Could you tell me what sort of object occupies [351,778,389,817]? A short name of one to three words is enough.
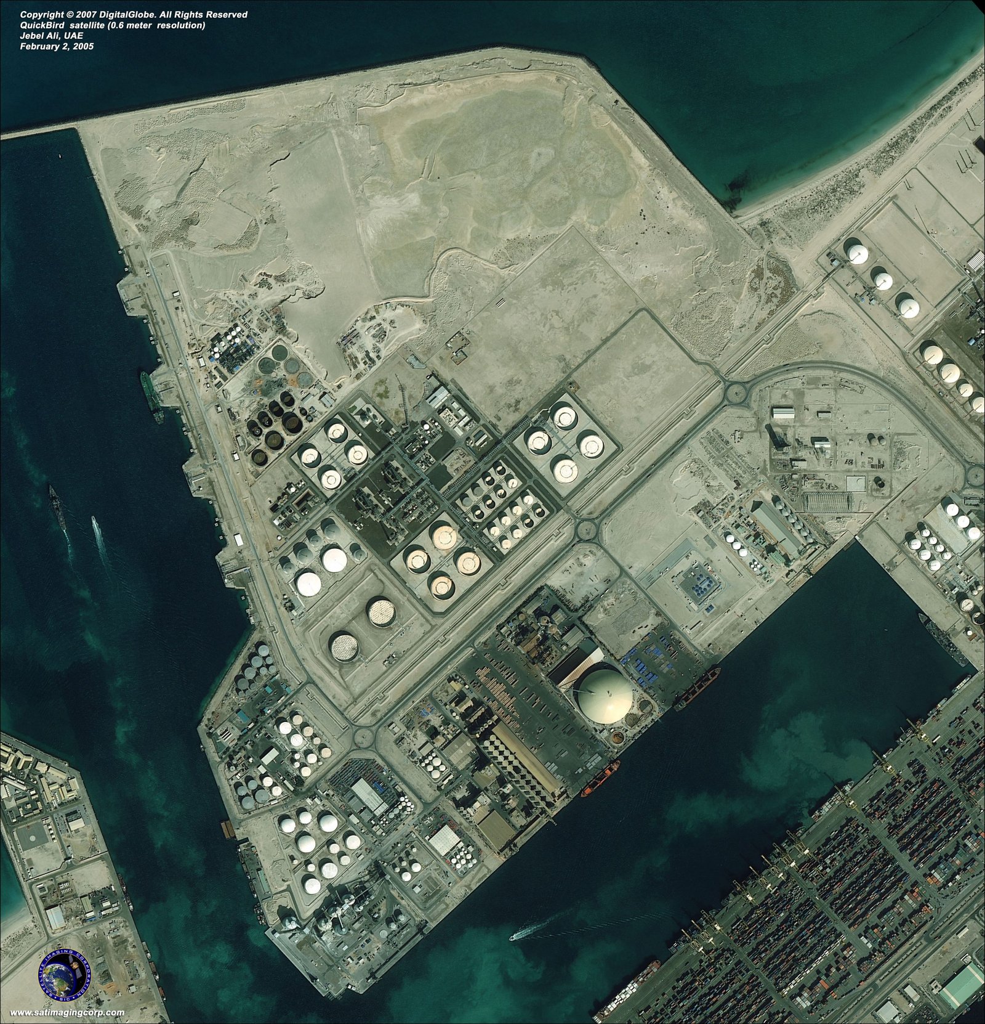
building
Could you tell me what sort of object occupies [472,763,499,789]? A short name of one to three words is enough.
house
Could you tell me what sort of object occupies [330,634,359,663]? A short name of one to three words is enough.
storage tank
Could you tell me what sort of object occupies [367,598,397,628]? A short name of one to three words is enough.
storage tank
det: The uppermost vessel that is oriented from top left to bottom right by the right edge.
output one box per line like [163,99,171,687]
[918,614,968,669]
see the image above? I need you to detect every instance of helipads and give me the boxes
[16,822,48,851]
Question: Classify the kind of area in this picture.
port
